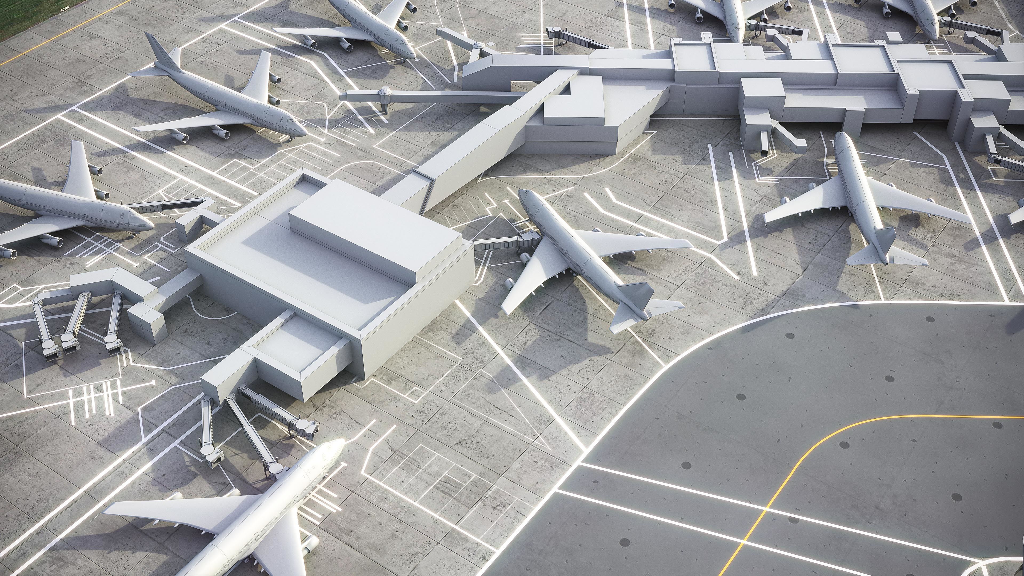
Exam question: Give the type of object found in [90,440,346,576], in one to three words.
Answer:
airplane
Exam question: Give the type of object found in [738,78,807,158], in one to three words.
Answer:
building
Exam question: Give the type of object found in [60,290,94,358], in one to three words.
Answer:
jet bridge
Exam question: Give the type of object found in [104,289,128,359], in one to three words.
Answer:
jet bridge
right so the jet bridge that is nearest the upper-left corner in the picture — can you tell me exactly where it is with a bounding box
[106,196,213,214]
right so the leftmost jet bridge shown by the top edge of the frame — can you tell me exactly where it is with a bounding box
[544,26,615,51]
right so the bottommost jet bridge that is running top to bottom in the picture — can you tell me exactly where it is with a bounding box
[199,393,227,473]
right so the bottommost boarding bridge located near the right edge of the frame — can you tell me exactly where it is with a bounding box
[986,152,1024,175]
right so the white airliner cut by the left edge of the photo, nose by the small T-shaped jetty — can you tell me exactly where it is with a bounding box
[0,138,155,259]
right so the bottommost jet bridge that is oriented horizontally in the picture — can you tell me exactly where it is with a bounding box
[469,230,543,260]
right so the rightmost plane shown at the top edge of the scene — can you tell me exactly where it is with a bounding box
[879,0,959,42]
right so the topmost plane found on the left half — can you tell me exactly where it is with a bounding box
[268,0,417,61]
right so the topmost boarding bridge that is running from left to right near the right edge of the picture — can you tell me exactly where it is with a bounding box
[939,16,1010,42]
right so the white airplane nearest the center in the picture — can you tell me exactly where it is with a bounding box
[502,187,702,334]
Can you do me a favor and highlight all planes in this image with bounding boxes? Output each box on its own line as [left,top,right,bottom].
[668,0,792,44]
[125,32,308,142]
[90,440,346,576]
[1008,198,1024,230]
[268,0,417,61]
[0,138,155,259]
[879,0,959,42]
[502,187,702,334]
[764,130,977,265]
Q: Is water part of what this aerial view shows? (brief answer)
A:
No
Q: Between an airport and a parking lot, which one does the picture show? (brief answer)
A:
airport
